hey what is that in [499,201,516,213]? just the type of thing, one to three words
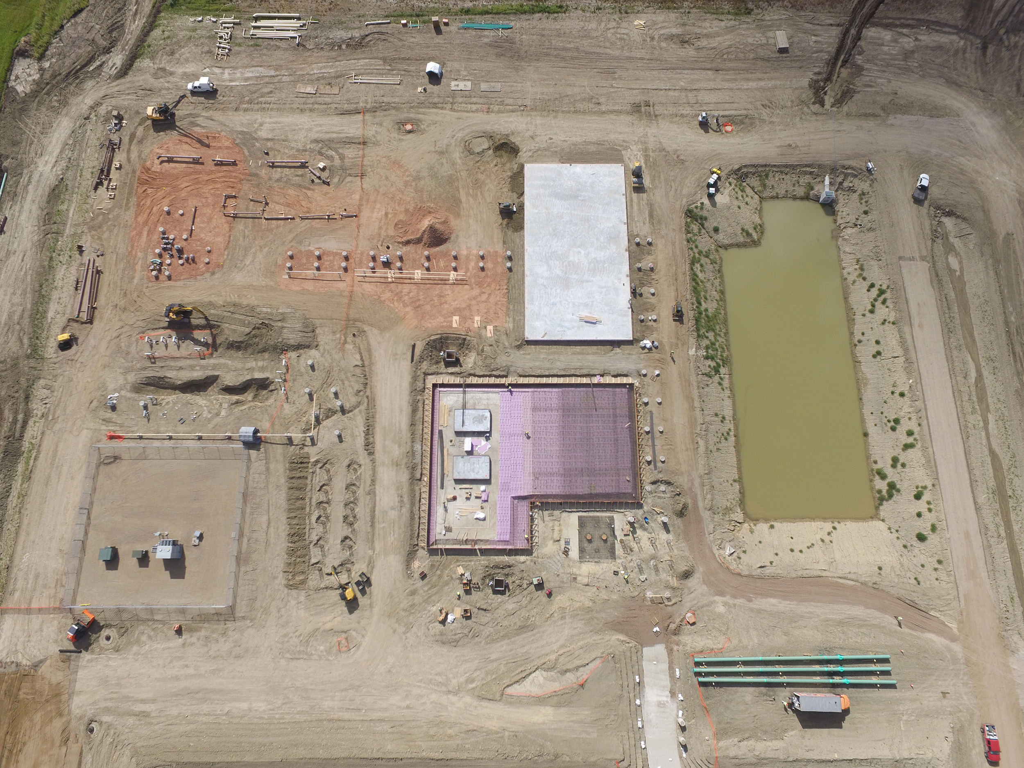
vehicle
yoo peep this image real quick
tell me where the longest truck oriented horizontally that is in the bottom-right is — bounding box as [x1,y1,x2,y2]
[784,690,849,713]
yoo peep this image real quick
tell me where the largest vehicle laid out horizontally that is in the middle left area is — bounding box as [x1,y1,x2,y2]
[160,301,219,323]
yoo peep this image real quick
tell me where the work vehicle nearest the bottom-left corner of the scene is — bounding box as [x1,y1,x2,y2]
[64,605,99,645]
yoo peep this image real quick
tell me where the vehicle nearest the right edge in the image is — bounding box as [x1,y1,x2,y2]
[978,719,1002,763]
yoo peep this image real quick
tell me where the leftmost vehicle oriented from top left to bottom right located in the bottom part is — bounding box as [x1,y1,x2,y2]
[327,565,358,606]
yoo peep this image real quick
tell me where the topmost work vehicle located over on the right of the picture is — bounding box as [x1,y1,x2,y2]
[695,111,721,126]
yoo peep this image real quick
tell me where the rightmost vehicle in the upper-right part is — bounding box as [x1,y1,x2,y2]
[911,173,930,201]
